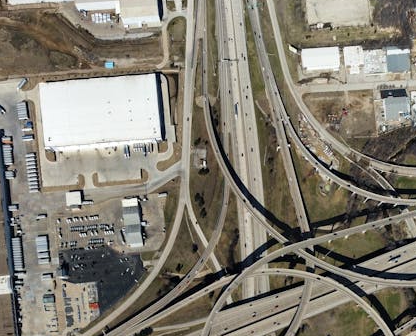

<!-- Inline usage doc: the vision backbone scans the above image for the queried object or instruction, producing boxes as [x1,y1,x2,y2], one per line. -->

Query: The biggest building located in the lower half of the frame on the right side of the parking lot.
[122,198,145,248]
